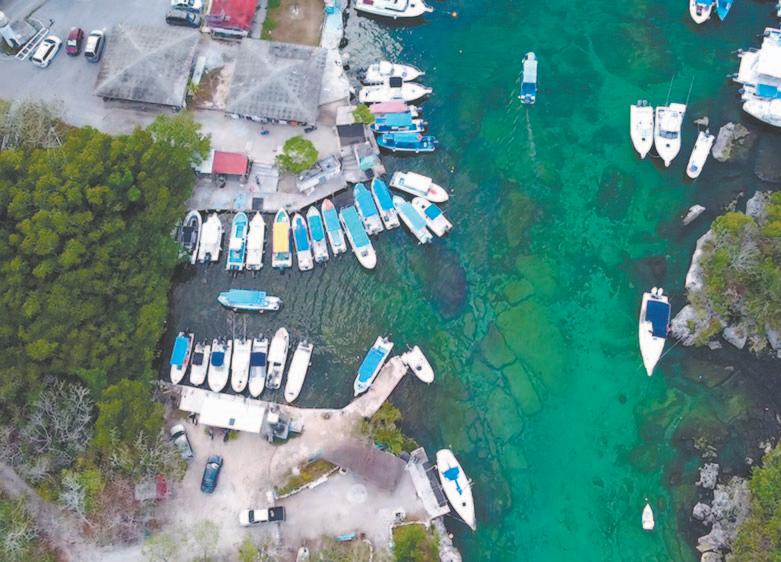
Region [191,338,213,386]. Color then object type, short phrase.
white boat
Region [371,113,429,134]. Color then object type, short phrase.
blue boat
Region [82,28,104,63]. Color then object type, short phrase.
white car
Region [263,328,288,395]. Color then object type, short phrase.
white boat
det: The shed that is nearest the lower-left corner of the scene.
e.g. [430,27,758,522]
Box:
[135,474,171,501]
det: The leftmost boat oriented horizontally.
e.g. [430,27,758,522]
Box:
[217,288,287,313]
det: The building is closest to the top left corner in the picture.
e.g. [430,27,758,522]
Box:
[94,24,202,114]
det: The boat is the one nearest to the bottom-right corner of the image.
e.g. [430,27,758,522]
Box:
[641,502,655,531]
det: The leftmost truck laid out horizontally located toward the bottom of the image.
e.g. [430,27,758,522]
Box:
[239,506,286,528]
